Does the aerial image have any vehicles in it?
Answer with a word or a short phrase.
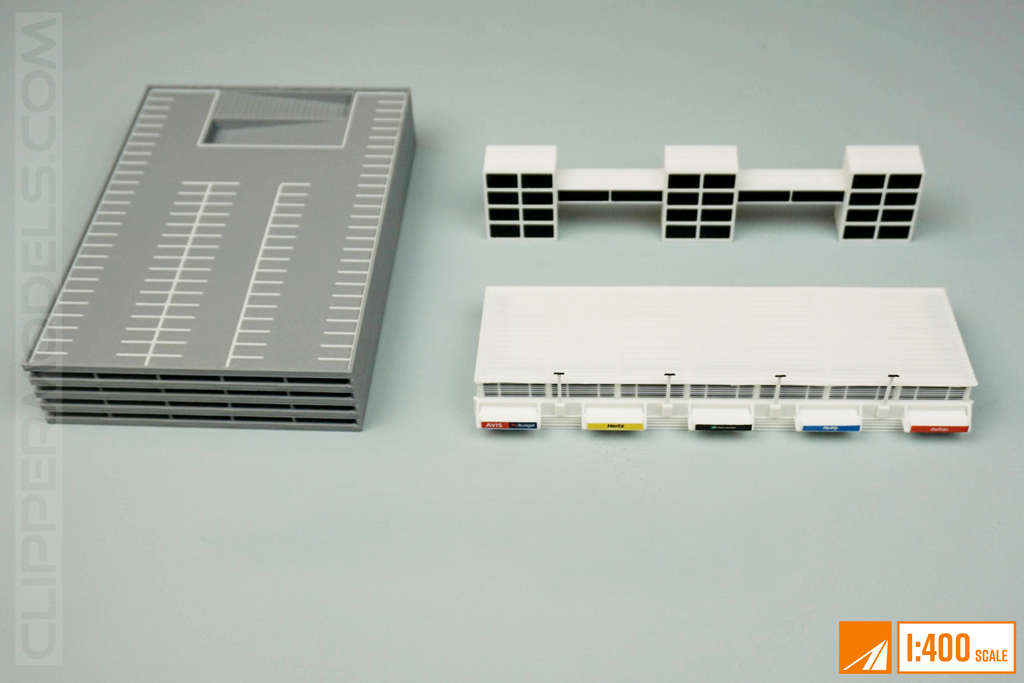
No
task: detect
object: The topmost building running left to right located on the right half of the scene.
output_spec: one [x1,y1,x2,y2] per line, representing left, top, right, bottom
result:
[483,145,925,241]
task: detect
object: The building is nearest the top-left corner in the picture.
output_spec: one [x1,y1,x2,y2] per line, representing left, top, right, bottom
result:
[23,85,416,430]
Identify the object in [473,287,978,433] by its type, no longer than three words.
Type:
building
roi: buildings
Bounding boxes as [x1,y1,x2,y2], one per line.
[23,85,416,430]
[473,287,978,433]
[483,145,925,241]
